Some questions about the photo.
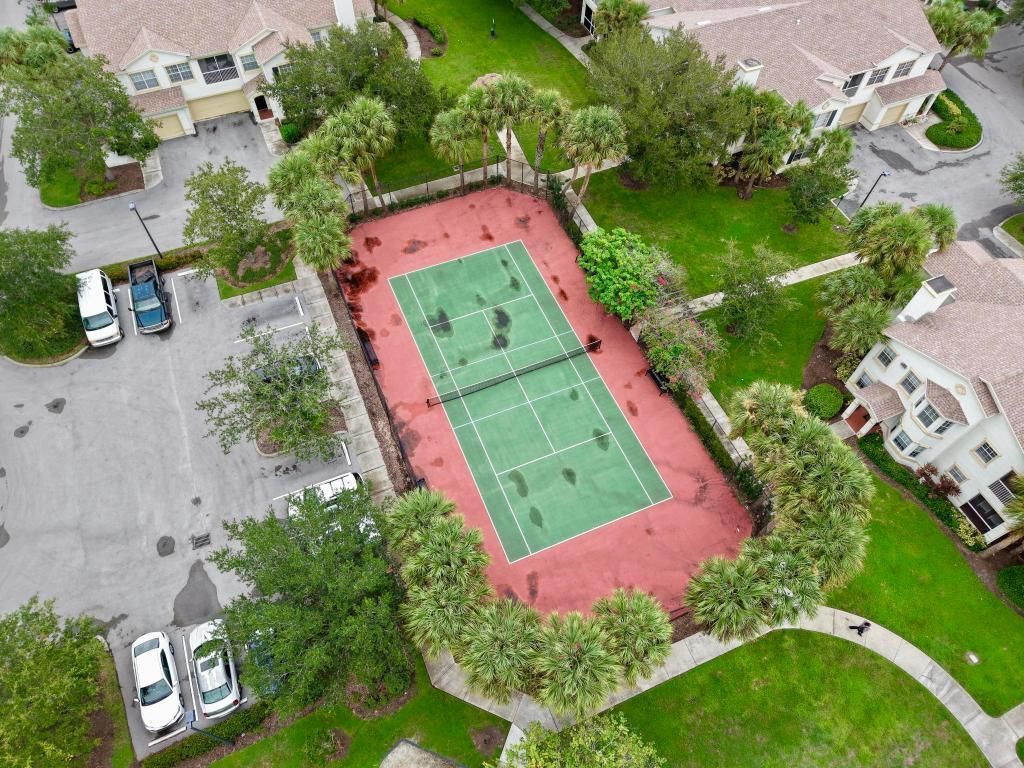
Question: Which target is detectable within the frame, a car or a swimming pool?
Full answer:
It is a car that can be seen here.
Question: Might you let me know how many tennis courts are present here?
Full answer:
Only 1 tennis court is visible.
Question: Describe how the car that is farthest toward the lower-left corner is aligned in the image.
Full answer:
The car that is farthest toward the lower-left corner is laid out vertically.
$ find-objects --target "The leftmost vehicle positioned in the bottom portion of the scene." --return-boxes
[133,632,184,734]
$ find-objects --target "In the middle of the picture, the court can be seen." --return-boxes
[333,186,751,646]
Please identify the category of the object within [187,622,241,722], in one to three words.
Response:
car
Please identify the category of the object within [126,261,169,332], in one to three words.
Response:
truck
